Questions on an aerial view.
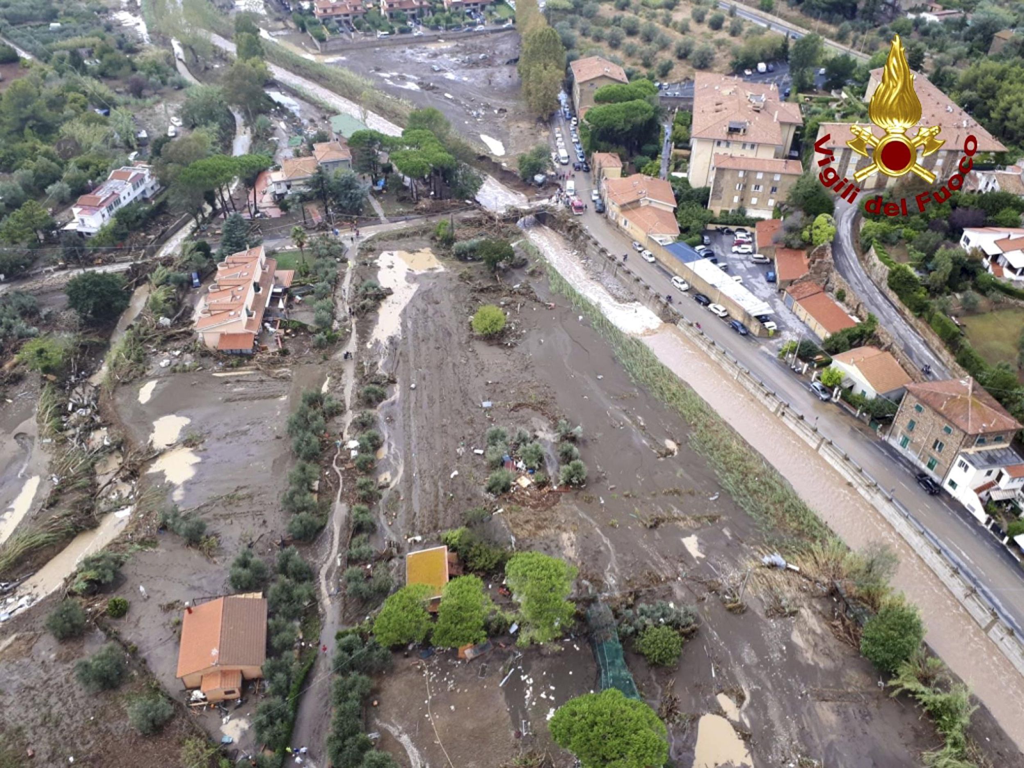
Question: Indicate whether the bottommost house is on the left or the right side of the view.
left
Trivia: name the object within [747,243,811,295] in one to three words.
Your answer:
building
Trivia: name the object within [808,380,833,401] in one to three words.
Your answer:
car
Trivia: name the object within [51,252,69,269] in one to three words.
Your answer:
work vehicle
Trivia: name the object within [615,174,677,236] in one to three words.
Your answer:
house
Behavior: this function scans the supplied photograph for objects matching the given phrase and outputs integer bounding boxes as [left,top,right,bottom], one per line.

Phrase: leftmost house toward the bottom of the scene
[177,591,280,703]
